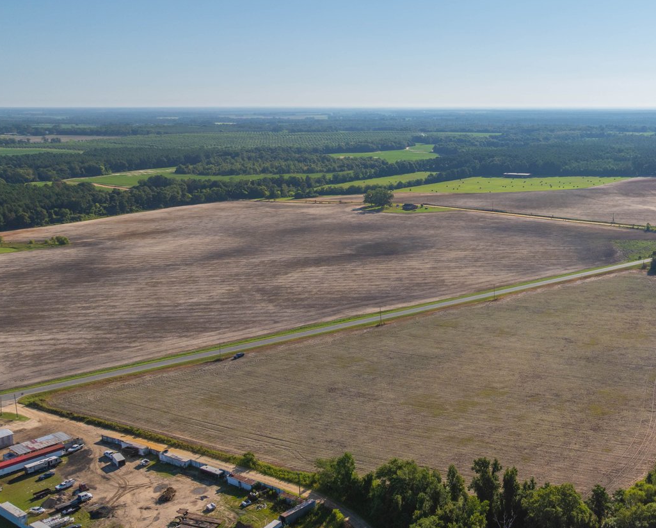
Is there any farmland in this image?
Yes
